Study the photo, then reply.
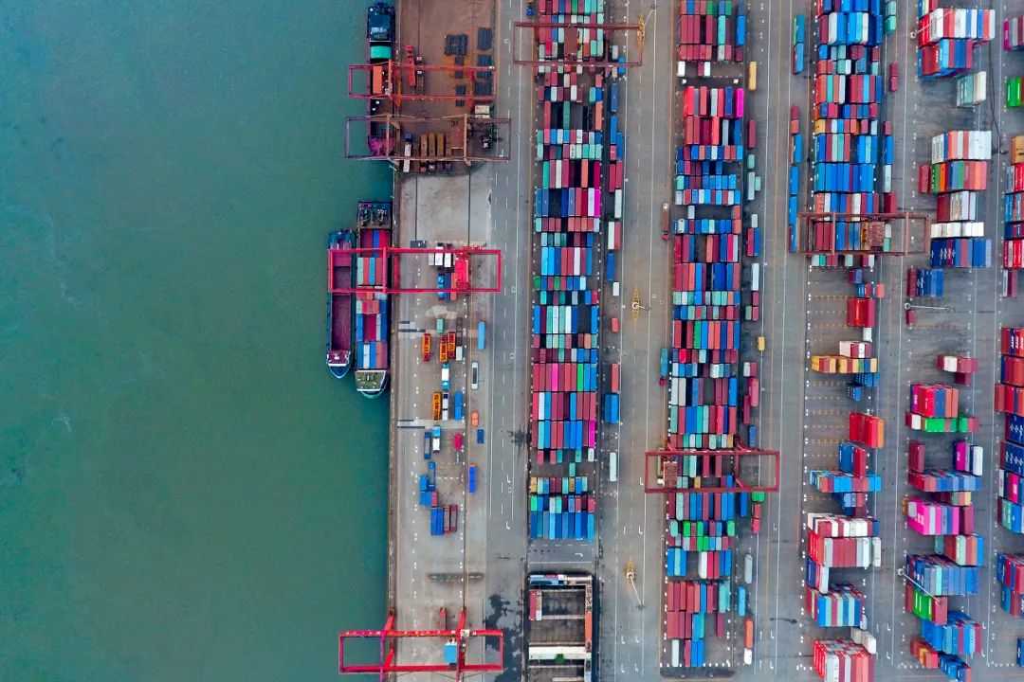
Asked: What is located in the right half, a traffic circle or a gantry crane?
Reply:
gantry crane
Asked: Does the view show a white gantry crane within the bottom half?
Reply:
No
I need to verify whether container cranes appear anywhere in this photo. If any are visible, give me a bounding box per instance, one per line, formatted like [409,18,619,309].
[347,57,500,117]
[514,19,642,82]
[338,603,529,682]
[644,441,780,495]
[344,111,511,173]
[797,209,929,257]
[327,245,502,297]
